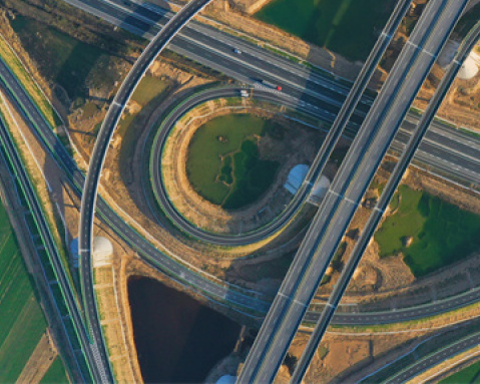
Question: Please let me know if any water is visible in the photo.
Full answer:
Yes, the picture does contain water.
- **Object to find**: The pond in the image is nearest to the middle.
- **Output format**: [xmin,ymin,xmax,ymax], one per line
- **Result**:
[188,115,279,208]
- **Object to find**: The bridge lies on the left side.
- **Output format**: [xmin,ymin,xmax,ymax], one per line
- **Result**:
[78,0,213,249]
